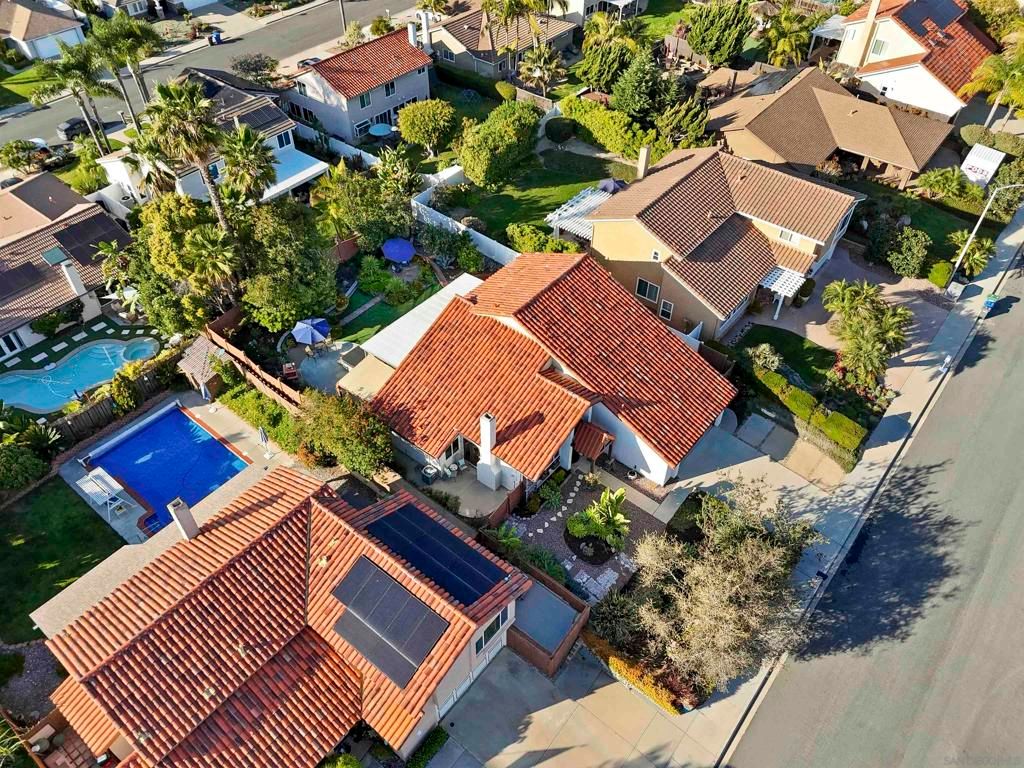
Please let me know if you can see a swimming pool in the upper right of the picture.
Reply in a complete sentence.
No, there is no swimming pool in the upper right of the picture.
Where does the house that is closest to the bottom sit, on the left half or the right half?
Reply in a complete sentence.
It is on the left.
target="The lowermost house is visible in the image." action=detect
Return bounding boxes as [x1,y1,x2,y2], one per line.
[44,463,535,768]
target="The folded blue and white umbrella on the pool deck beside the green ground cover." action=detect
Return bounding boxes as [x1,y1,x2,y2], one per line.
[258,429,277,457]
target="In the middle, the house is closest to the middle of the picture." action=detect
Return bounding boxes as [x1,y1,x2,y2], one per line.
[369,250,741,498]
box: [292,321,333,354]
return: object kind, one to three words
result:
umbrella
